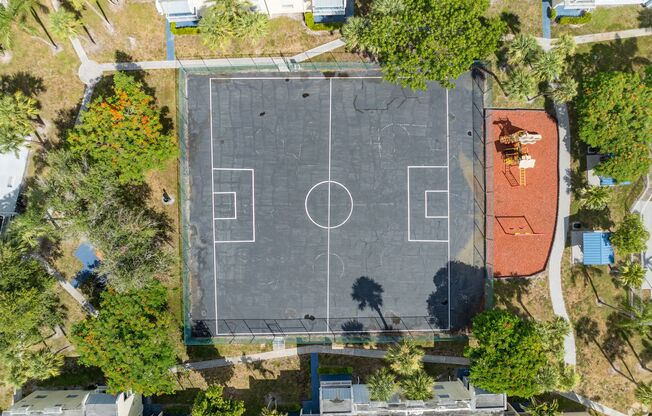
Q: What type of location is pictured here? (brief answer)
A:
sports ground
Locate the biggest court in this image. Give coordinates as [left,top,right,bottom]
[187,71,487,338]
